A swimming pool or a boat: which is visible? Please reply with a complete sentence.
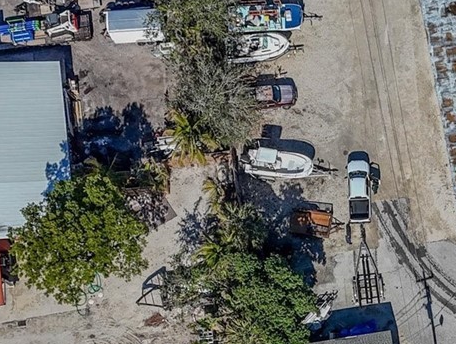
I can see a boat in this picture.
